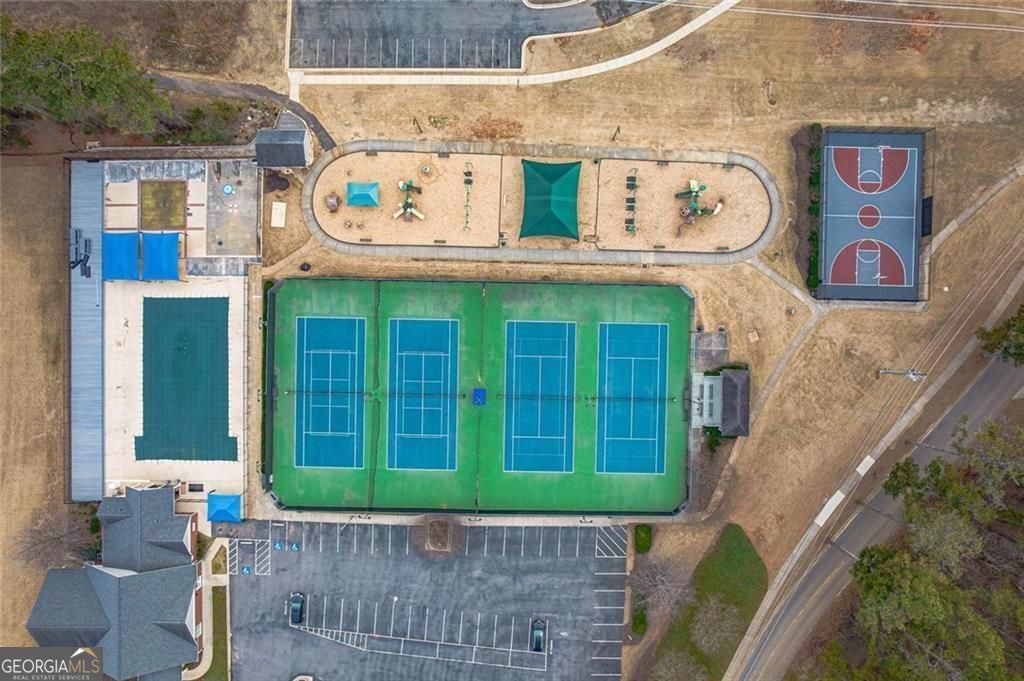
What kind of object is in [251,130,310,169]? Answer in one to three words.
building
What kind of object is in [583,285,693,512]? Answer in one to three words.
tennis court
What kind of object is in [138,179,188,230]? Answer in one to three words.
swimming pool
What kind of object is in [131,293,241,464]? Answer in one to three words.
swimming pool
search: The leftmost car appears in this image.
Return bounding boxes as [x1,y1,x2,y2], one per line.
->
[289,591,305,623]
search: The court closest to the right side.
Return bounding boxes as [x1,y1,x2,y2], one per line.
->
[816,131,923,301]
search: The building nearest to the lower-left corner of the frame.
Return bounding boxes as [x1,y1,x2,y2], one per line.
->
[26,485,201,681]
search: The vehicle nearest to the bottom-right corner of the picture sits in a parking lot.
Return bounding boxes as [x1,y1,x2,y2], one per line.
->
[532,619,546,651]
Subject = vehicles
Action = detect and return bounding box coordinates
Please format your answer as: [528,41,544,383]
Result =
[532,619,546,651]
[289,591,305,623]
